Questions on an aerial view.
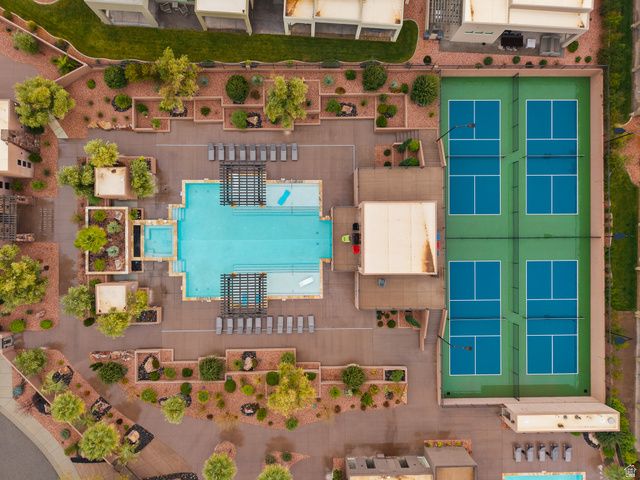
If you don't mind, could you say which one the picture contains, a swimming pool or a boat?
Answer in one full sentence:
Of the two, only a swimming pool appears.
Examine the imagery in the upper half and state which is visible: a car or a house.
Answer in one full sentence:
You can see a house in the upper half.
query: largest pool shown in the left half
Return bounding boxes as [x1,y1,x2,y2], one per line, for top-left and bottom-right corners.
[169,178,332,301]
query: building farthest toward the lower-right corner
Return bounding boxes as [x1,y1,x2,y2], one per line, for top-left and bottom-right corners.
[502,406,619,432]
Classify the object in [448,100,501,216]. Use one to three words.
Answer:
sports court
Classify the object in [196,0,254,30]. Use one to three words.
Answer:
house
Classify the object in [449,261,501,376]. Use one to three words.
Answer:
sports court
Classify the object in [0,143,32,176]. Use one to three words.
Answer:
house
